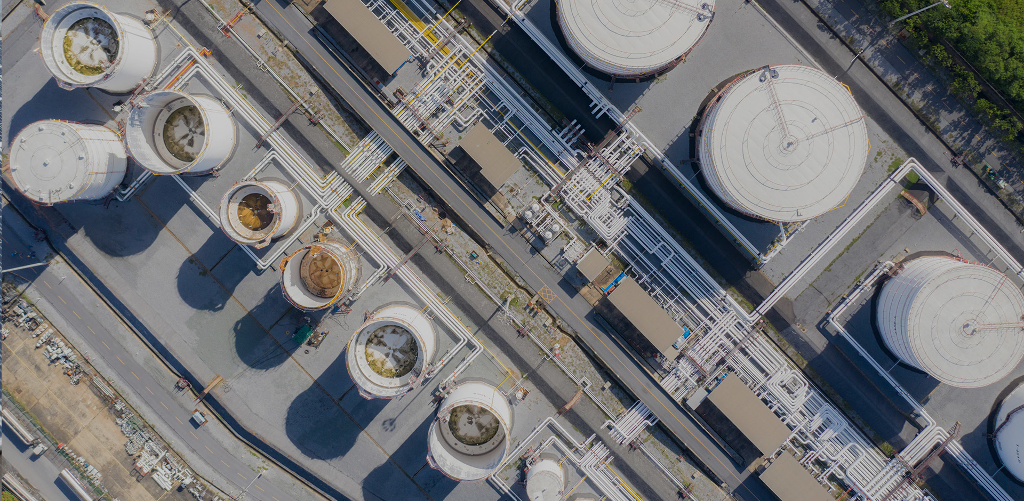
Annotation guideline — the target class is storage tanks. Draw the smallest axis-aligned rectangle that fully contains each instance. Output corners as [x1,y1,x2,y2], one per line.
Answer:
[277,238,356,313]
[687,62,873,226]
[122,87,238,181]
[38,0,160,95]
[987,376,1024,493]
[422,377,515,487]
[523,456,566,501]
[545,0,714,83]
[868,249,1024,389]
[9,120,131,202]
[216,177,302,250]
[341,301,440,405]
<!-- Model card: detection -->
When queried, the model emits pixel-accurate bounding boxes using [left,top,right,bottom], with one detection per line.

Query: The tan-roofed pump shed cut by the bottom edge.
[750,446,837,501]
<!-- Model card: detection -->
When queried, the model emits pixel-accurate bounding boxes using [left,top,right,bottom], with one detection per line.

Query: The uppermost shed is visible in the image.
[316,0,414,82]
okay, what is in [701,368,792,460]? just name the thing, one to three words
shed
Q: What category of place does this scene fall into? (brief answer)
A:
industrial area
